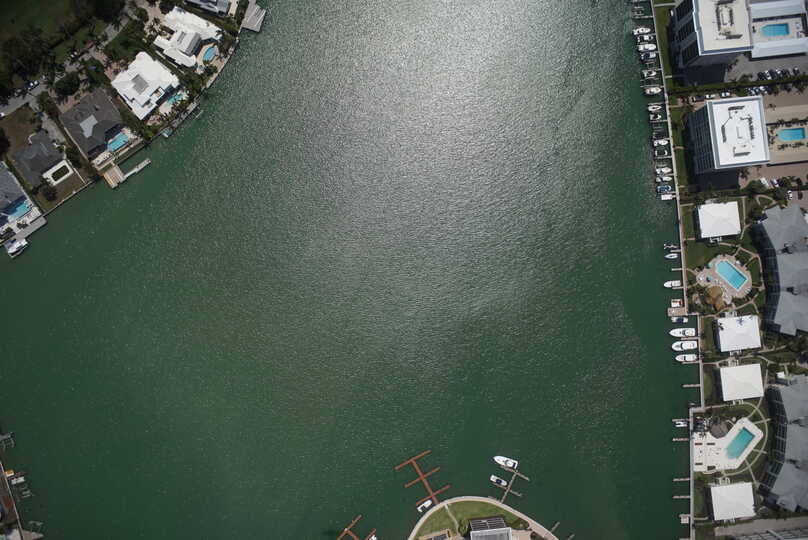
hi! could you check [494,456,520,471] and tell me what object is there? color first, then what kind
white boat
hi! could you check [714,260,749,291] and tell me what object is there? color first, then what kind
blue swimming pool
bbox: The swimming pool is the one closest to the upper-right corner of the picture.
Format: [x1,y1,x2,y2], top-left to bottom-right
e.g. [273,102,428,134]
[761,22,791,37]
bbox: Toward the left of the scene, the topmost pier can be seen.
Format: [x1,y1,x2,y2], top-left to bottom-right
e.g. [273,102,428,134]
[241,0,267,33]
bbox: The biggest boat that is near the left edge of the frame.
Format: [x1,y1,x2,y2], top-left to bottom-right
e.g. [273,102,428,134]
[3,242,27,257]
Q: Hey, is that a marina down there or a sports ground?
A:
marina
